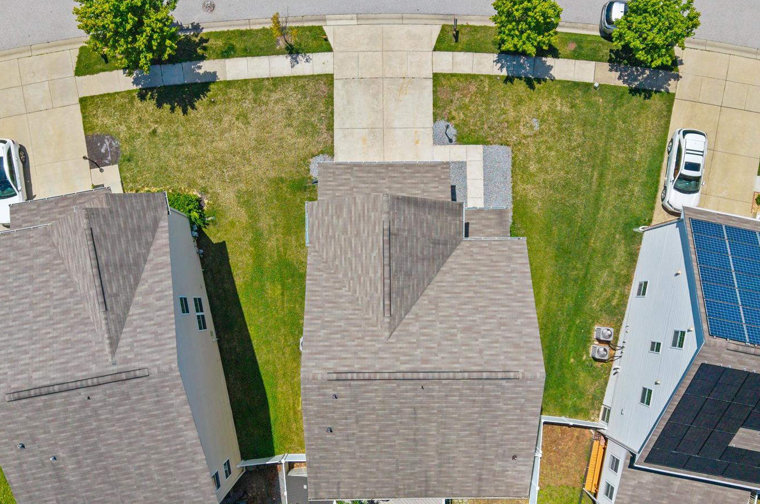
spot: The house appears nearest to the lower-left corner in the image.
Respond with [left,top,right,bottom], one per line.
[0,186,244,504]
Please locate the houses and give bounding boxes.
[301,160,545,502]
[0,186,244,504]
[592,204,760,504]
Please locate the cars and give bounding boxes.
[594,2,649,46]
[0,139,32,228]
[660,129,712,210]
